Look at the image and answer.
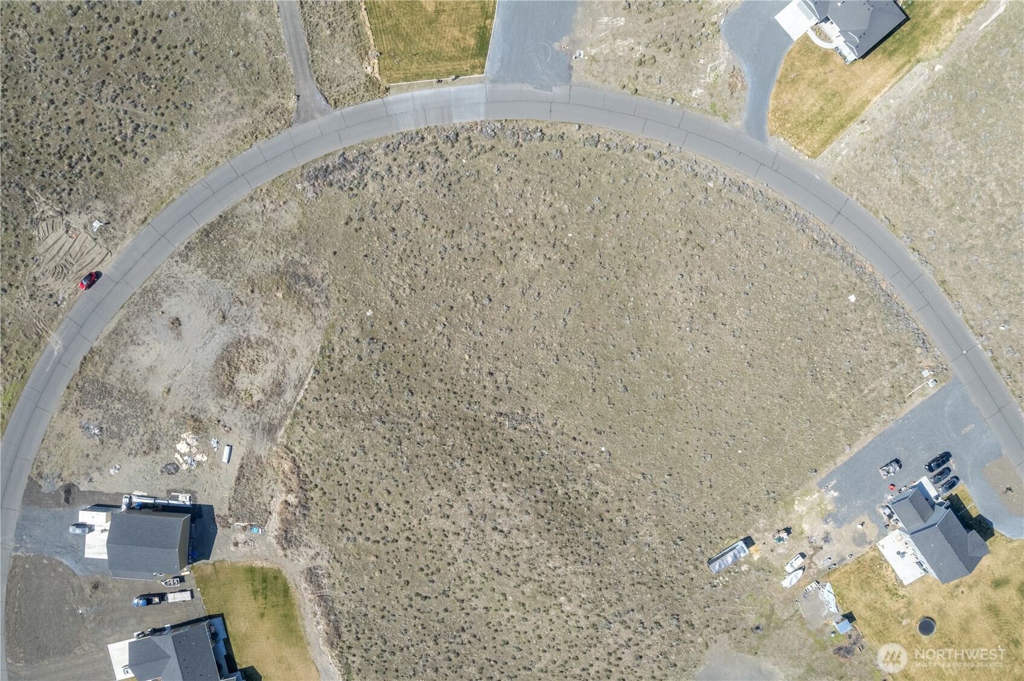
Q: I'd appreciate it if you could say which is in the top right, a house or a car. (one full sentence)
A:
You can see a house in the top right.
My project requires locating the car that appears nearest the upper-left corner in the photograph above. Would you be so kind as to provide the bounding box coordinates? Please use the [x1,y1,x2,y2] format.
[79,269,98,290]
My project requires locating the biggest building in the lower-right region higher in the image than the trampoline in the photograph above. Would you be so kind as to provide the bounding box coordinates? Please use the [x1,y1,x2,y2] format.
[886,487,990,585]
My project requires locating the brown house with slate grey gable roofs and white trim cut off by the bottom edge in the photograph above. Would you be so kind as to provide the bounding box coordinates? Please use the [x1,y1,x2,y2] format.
[128,621,243,681]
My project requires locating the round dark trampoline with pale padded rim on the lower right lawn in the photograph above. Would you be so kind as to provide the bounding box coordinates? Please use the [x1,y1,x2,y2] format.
[918,618,937,635]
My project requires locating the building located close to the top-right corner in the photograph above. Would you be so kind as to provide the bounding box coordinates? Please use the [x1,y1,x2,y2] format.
[792,0,907,61]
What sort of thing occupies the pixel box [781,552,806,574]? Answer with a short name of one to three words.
camper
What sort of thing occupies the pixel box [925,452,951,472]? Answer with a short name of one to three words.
vehicle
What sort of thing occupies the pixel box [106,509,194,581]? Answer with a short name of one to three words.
building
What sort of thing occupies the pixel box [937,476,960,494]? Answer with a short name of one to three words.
car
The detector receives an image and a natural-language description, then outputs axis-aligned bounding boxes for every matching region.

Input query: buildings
[128,621,243,681]
[792,0,907,61]
[106,509,194,581]
[886,487,990,585]
[832,614,851,632]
